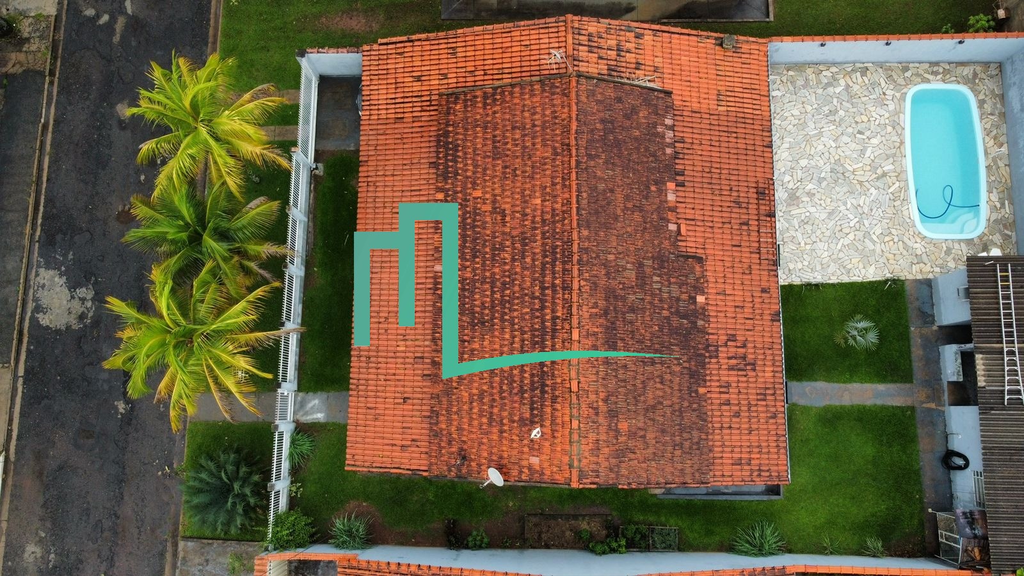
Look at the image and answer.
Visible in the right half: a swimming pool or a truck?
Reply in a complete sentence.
Looking in the right half, you will find a swimming pool.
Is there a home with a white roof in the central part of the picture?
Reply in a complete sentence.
No, there is no home with a white roof in the central part of the picture.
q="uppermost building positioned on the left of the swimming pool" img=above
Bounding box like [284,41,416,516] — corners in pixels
[347,9,793,493]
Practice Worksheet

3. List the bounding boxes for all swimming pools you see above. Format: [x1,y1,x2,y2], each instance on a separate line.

[906,86,987,237]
